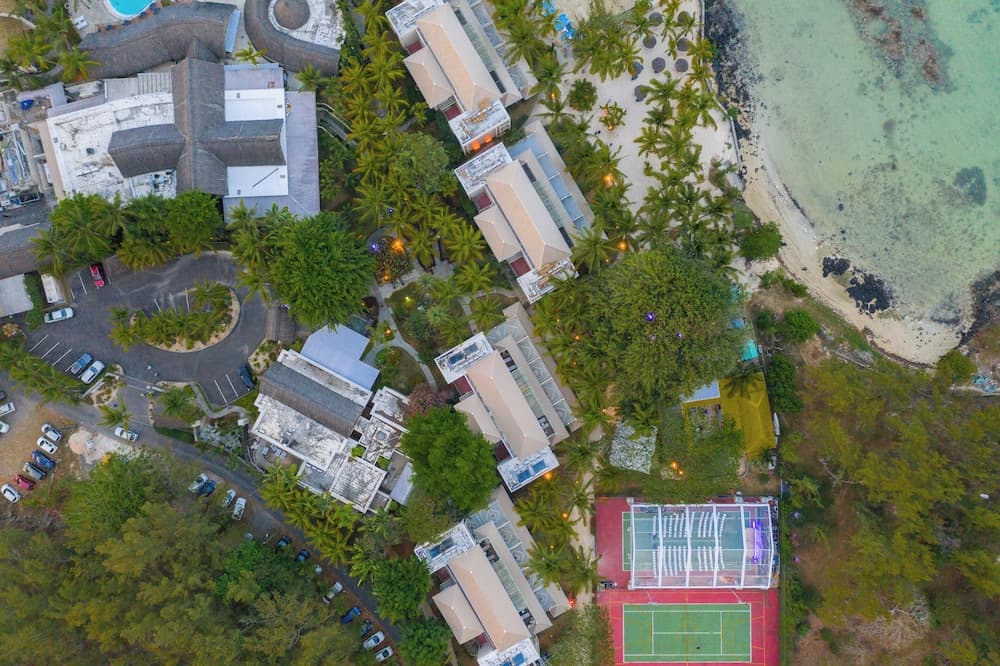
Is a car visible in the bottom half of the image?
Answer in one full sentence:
Yes, there is a car in the bottom half of the image.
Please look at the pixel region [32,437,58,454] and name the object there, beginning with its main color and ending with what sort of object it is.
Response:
white car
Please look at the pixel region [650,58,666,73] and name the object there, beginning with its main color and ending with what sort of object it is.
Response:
gray umbrella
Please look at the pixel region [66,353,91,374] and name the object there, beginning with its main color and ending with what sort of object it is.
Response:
blue car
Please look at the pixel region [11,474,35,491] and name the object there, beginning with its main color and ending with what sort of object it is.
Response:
red car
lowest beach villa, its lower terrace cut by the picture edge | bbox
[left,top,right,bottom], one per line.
[415,482,574,666]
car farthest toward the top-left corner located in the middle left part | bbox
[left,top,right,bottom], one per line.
[86,262,104,286]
